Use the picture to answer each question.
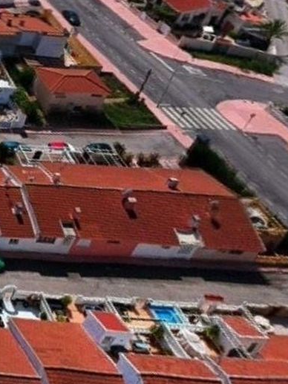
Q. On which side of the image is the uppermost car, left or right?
left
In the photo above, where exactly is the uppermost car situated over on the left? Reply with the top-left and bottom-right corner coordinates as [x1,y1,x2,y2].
[59,6,82,26]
